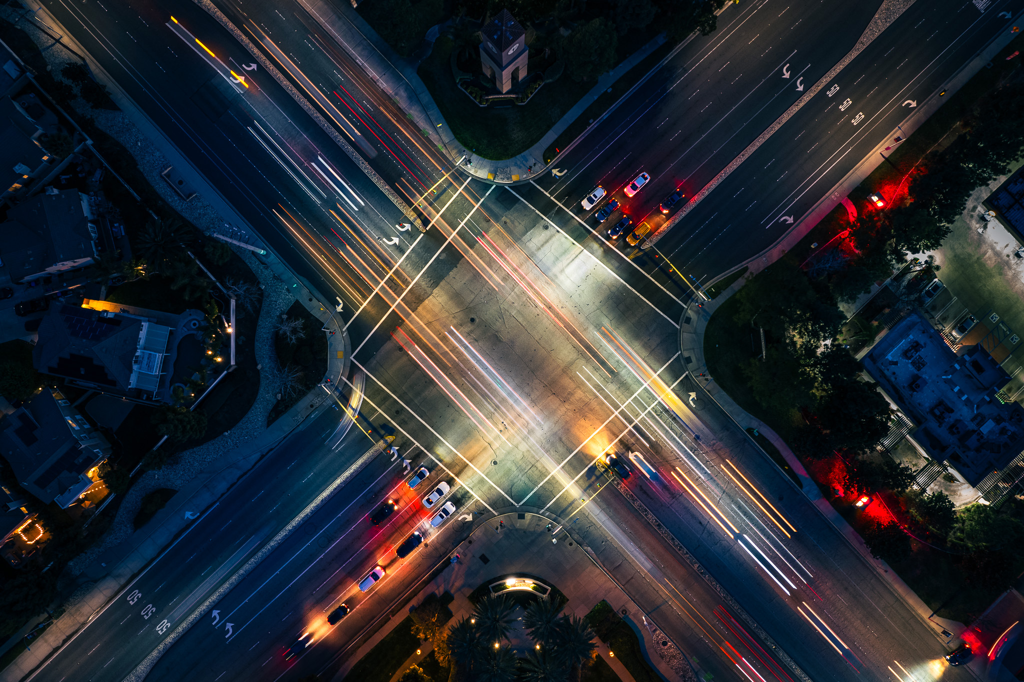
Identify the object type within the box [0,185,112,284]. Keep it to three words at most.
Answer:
house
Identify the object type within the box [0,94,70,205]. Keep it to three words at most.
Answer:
house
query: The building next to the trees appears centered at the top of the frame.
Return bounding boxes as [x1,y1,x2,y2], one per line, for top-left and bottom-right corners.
[479,4,527,77]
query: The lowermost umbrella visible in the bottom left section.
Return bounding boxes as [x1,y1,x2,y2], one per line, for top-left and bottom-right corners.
[81,498,98,515]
